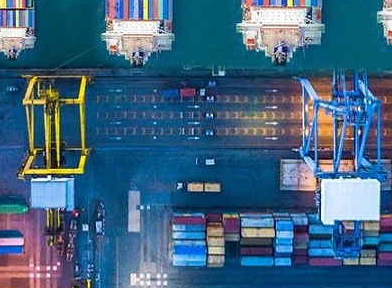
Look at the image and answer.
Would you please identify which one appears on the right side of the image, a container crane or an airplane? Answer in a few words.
container crane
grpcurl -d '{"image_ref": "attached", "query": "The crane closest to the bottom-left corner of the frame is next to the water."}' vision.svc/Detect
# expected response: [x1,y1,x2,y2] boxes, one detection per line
[16,75,96,252]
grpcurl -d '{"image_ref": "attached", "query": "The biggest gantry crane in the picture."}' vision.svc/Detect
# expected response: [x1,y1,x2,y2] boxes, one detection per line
[290,64,379,266]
